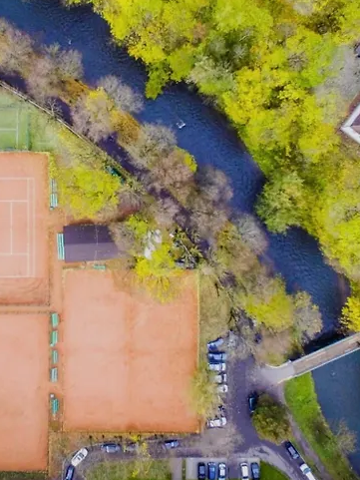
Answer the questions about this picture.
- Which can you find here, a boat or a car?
car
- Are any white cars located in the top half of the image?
No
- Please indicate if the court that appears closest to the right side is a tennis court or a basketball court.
tennis court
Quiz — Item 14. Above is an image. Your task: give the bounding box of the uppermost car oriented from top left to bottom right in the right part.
[286,442,302,462]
